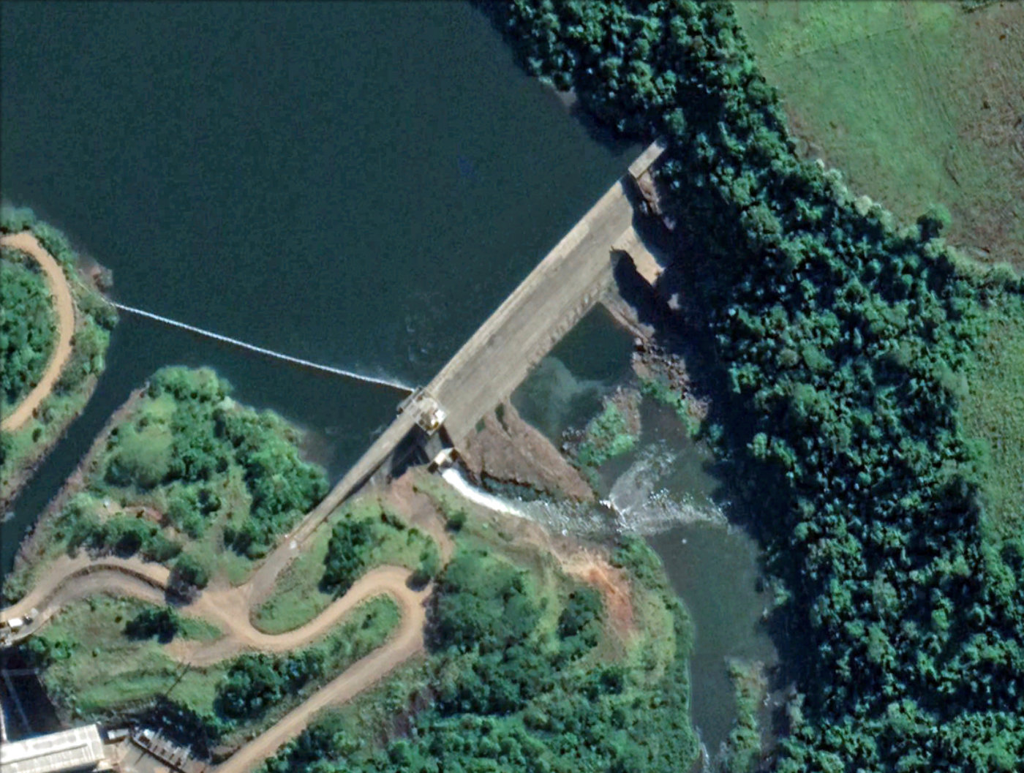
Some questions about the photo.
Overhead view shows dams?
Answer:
Yes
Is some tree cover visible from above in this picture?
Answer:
Yes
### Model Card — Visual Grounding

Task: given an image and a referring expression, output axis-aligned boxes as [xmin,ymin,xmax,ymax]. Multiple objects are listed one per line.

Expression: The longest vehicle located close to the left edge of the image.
[7,616,29,628]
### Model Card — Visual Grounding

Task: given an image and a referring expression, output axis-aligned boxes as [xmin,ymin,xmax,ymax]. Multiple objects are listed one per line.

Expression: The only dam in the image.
[290,139,682,543]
